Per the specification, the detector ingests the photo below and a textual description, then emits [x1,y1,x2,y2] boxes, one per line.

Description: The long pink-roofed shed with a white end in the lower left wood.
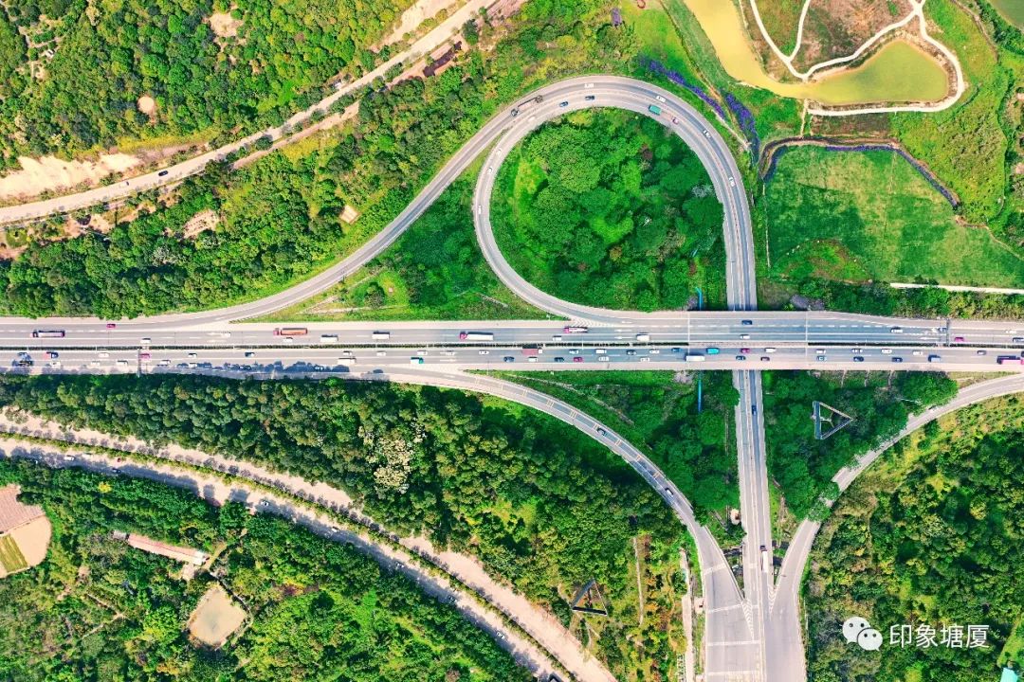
[128,530,208,564]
